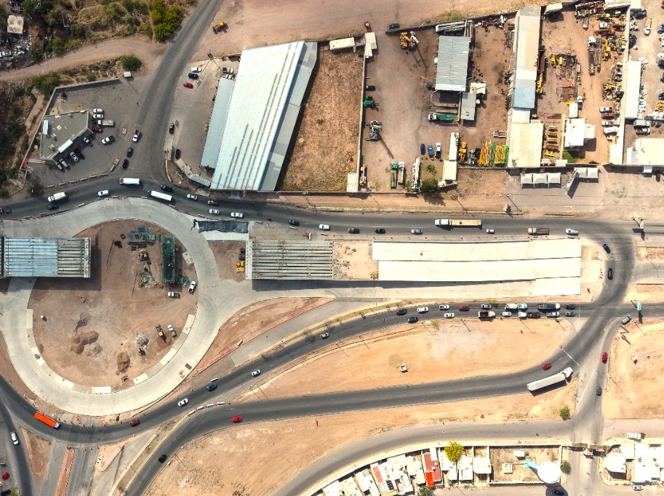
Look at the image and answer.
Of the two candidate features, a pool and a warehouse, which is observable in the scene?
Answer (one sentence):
This aerial view contains a warehouse.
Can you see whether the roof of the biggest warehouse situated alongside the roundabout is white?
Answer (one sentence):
Yes, the roof of the biggest warehouse situated alongside the roundabout is indeed white.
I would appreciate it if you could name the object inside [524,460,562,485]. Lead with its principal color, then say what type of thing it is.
white water tower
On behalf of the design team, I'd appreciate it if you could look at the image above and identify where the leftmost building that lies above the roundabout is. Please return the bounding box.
[7,16,24,36]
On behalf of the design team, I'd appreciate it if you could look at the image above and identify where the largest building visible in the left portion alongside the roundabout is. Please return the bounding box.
[200,42,317,193]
